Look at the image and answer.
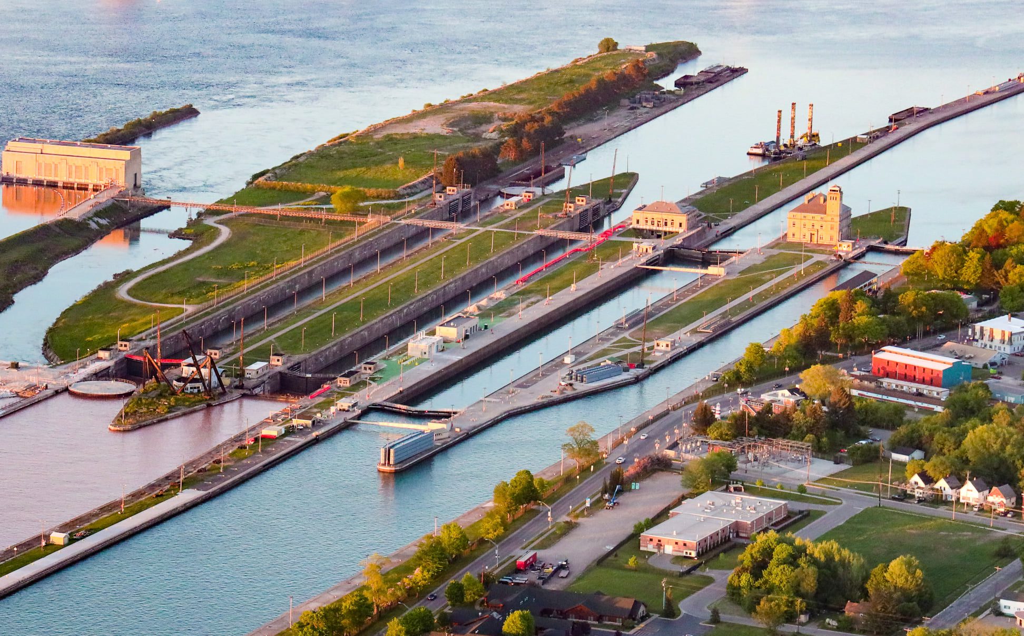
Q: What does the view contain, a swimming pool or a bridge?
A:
bridge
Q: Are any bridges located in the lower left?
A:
No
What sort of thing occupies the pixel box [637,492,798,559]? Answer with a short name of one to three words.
building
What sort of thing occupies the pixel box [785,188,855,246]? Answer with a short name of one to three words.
building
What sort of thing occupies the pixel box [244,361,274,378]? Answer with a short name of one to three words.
shed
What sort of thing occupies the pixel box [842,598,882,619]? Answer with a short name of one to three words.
house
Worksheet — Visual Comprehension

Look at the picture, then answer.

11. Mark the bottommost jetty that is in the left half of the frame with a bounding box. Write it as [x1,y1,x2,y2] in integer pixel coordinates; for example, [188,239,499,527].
[0,223,702,598]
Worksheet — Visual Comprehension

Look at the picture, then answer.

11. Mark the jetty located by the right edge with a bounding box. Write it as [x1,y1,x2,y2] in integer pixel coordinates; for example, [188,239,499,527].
[661,76,1024,258]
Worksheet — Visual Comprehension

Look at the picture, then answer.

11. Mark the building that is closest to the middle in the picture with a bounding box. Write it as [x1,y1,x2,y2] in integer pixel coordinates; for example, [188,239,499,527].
[434,315,487,341]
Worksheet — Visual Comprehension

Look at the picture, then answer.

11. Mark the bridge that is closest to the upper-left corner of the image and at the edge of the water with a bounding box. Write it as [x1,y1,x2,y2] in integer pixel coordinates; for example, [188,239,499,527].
[115,186,390,222]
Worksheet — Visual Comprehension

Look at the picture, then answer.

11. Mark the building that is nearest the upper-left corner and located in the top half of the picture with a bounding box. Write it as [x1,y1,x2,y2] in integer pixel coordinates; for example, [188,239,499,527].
[0,138,141,191]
